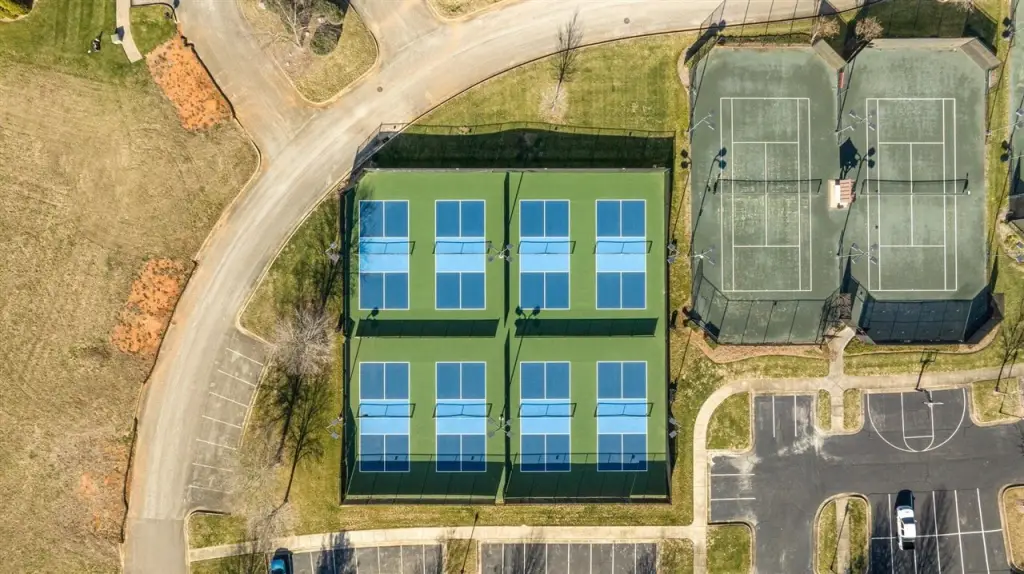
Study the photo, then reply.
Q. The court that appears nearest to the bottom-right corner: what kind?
basketball court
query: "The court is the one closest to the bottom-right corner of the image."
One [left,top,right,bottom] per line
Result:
[868,389,965,452]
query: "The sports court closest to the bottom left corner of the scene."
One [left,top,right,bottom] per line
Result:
[360,362,410,472]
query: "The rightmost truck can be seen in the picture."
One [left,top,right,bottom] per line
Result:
[894,503,917,550]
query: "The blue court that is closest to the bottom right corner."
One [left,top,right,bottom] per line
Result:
[597,362,648,472]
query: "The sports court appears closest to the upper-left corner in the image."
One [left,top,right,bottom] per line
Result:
[359,200,410,310]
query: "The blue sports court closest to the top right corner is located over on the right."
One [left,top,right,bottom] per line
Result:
[596,200,646,310]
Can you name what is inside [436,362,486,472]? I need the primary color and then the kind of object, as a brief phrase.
blue sports court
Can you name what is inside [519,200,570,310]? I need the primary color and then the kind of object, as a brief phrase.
blue sports court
